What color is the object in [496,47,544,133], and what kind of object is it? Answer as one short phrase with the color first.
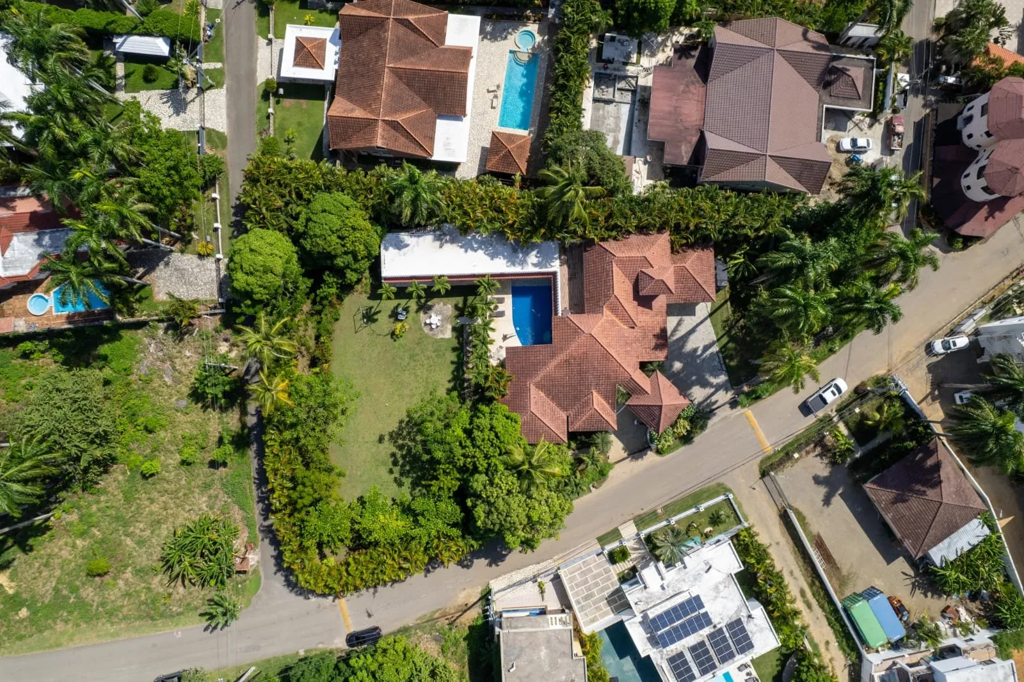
blue swimming pool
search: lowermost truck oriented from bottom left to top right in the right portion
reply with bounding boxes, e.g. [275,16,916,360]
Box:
[801,376,847,416]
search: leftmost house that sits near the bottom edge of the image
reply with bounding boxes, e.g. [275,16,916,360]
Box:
[502,605,586,682]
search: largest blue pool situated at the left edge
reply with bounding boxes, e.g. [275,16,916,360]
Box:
[49,276,114,315]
